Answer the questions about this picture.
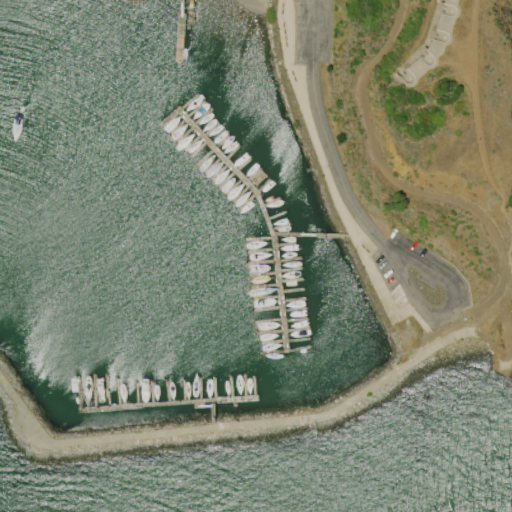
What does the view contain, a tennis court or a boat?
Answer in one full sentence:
Visible in the photo is a boat.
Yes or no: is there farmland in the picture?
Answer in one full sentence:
No, the picture contains no farmland.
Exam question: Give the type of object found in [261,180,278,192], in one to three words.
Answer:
boat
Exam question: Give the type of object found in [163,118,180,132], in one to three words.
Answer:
boat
